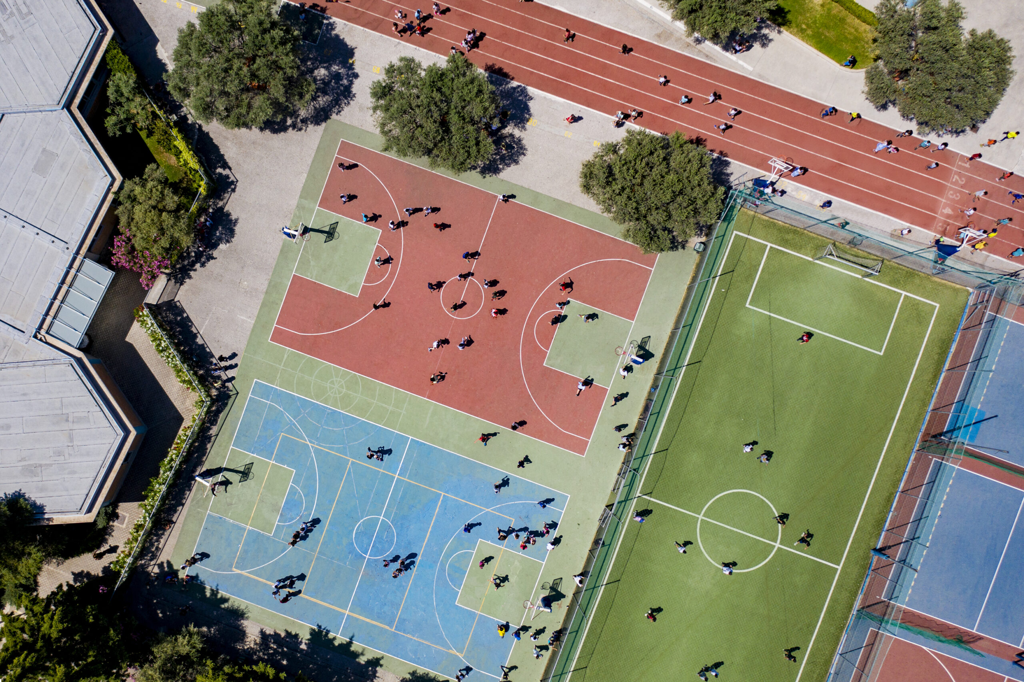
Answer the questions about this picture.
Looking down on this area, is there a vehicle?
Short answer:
No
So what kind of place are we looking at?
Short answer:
sports ground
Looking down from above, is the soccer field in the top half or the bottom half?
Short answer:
bottom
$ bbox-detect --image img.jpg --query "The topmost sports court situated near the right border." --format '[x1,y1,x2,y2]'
[921,292,1024,481]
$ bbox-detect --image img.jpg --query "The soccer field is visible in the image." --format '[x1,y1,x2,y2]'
[541,205,971,682]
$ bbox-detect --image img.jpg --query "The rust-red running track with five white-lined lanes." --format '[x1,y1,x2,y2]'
[288,0,1024,268]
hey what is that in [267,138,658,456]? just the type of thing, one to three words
basketball court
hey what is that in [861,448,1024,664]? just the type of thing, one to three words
sports court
